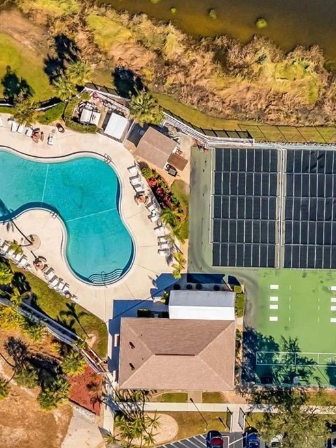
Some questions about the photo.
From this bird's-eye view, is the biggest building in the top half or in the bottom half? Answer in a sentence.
The bottom half of the photo is where the biggest building is.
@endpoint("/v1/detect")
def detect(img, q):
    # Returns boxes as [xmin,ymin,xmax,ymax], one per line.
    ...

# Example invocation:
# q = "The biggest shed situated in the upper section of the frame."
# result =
[135,126,177,169]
